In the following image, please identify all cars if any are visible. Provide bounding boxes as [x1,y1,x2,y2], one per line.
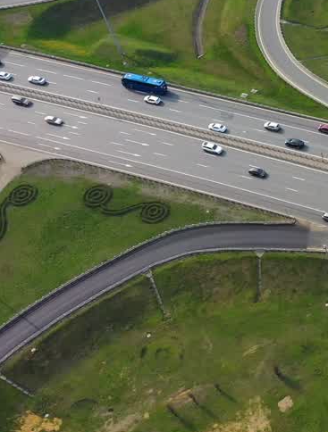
[209,124,226,133]
[249,167,266,179]
[0,73,11,80]
[145,96,162,105]
[286,140,303,150]
[322,214,328,222]
[45,117,62,126]
[12,96,30,106]
[318,125,328,133]
[203,143,222,154]
[30,77,46,85]
[264,123,280,132]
